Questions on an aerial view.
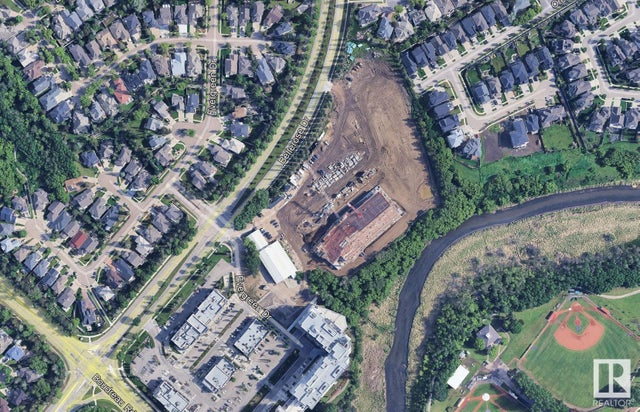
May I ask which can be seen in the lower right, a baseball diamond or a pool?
baseball diamond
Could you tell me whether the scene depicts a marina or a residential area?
residential area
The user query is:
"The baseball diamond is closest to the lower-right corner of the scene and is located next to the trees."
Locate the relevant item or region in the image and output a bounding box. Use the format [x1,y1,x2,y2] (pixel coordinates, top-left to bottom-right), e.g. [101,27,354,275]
[519,293,640,410]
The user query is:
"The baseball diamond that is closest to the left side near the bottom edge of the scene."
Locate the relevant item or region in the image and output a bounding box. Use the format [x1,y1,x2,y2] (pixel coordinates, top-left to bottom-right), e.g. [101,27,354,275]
[454,382,526,412]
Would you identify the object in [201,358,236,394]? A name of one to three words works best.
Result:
building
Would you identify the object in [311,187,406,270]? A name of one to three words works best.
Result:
building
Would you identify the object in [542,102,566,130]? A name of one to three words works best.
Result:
house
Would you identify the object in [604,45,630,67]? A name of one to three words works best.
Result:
house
